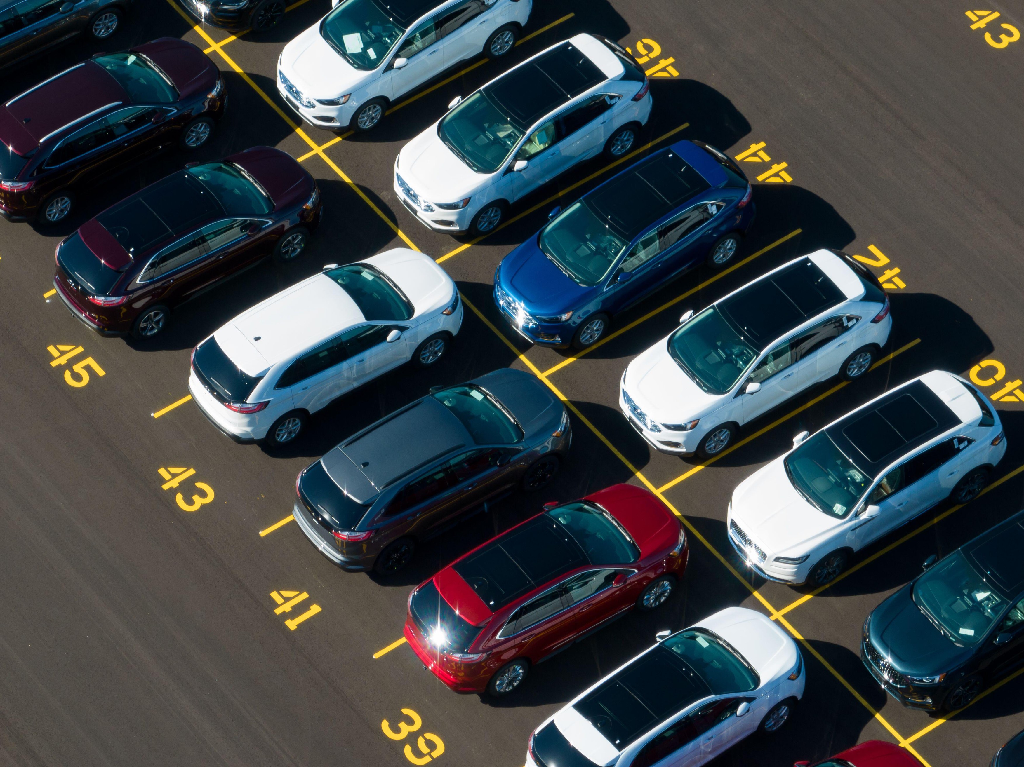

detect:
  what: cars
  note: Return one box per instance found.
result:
[278,0,537,133]
[291,374,570,579]
[730,371,1008,587]
[188,0,304,32]
[51,152,323,342]
[791,745,920,767]
[985,719,1024,767]
[402,490,689,699]
[494,141,760,348]
[394,35,657,237]
[517,612,808,767]
[861,507,1024,711]
[0,43,227,228]
[621,250,896,459]
[186,254,463,449]
[0,0,135,82]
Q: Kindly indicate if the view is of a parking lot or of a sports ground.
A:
parking lot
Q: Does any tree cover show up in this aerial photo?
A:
No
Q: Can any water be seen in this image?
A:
No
